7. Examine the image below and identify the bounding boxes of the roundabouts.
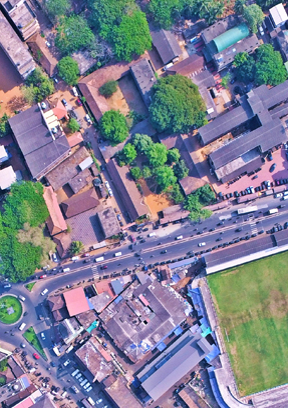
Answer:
[0,279,39,338]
